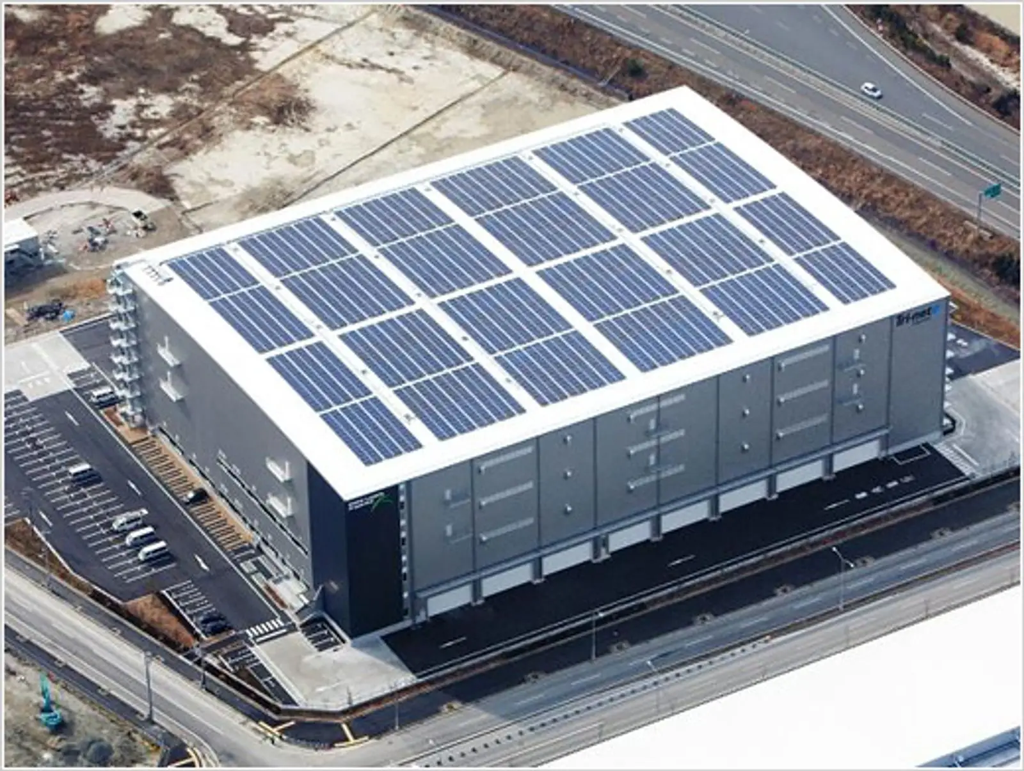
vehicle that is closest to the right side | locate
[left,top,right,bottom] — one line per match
[859,84,883,98]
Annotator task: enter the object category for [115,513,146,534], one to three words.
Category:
vehicle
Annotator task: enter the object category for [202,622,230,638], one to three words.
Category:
car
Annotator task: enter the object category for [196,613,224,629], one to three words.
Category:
car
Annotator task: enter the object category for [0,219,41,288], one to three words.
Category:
building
